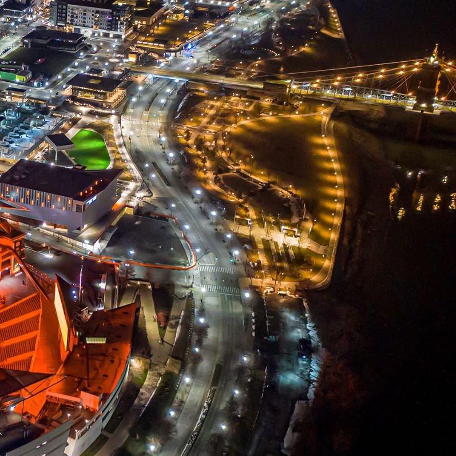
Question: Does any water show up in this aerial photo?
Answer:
Yes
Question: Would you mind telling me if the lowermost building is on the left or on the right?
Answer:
left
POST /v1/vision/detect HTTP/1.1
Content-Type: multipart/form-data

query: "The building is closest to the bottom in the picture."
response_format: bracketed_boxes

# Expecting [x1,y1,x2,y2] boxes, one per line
[0,159,123,231]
